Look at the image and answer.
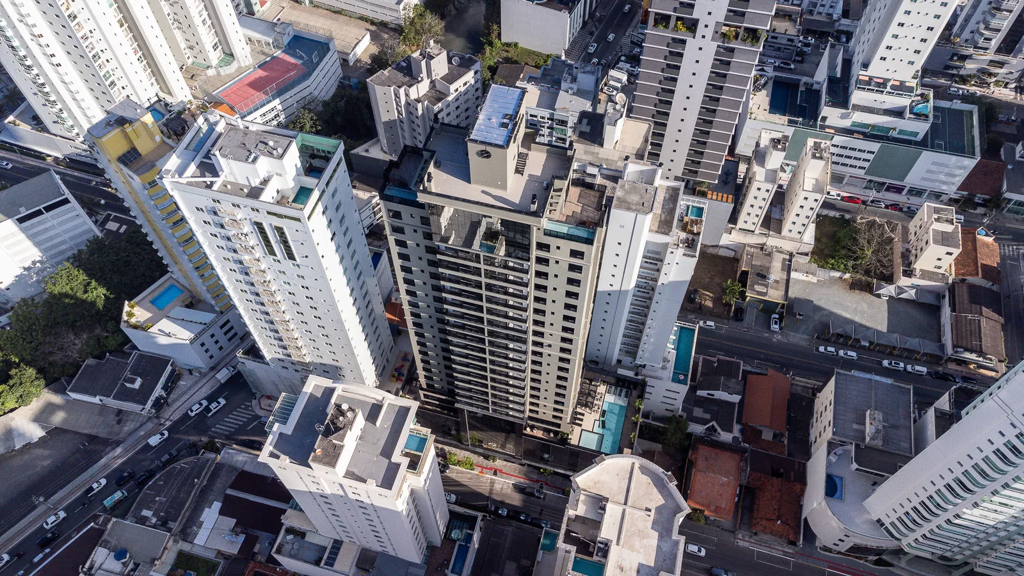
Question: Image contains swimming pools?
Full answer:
Yes, the frame does contain a swimming pool.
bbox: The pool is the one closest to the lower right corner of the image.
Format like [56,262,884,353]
[821,473,843,503]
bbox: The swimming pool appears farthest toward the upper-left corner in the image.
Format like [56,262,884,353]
[147,104,166,122]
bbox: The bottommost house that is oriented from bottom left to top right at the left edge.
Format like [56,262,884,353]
[32,524,112,576]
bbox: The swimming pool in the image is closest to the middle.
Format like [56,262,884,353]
[545,220,597,240]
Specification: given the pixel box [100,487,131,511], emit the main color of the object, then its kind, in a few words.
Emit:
blue truck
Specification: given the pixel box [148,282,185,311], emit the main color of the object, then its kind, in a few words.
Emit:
blue swimming pool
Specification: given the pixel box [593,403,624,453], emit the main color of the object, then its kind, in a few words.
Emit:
blue swimming pool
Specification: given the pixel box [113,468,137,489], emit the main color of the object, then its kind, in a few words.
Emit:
black car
